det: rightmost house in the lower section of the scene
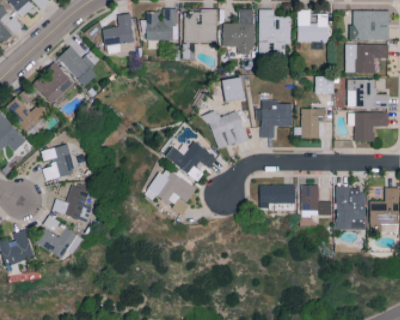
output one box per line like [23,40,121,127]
[370,188,400,234]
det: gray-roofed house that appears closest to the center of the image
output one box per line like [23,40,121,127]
[167,141,218,182]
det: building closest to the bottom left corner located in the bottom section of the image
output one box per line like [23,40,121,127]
[0,229,34,266]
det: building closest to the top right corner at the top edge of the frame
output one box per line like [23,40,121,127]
[349,11,390,41]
